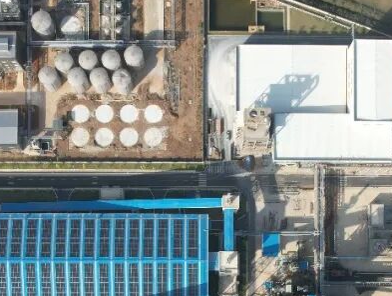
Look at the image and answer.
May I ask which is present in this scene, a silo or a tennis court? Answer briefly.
silo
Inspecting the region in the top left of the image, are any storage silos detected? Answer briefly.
Yes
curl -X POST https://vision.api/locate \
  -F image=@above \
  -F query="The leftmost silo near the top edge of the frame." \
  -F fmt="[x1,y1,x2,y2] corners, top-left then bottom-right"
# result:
[31,8,60,42]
